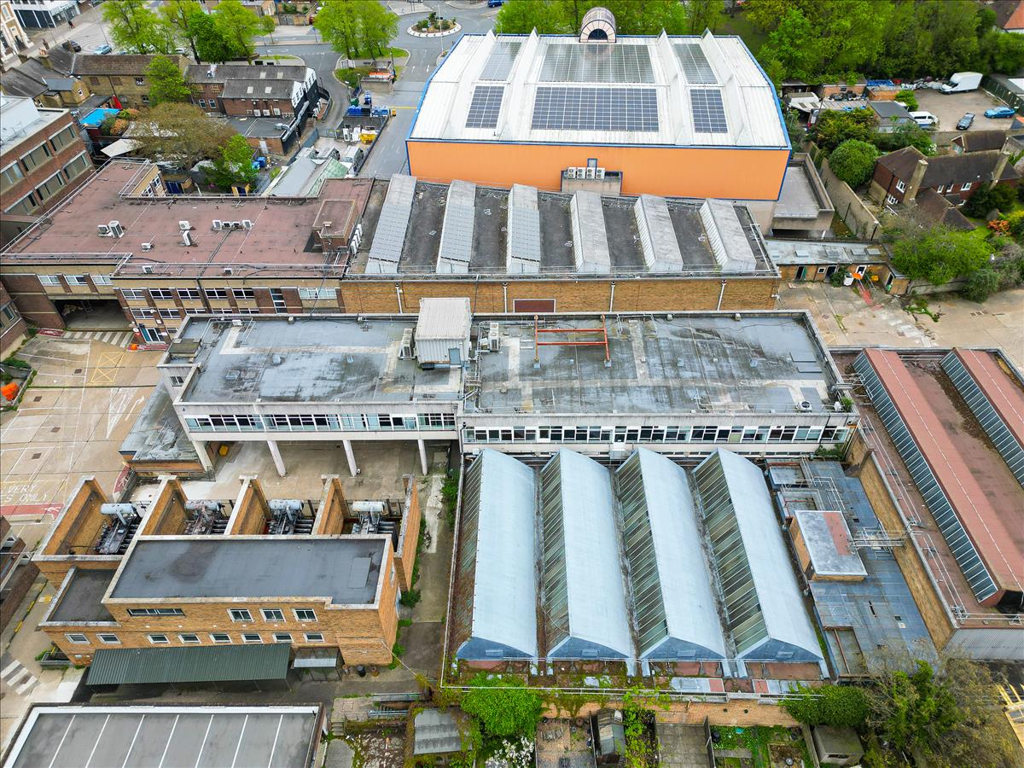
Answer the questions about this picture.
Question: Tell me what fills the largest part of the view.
buildings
